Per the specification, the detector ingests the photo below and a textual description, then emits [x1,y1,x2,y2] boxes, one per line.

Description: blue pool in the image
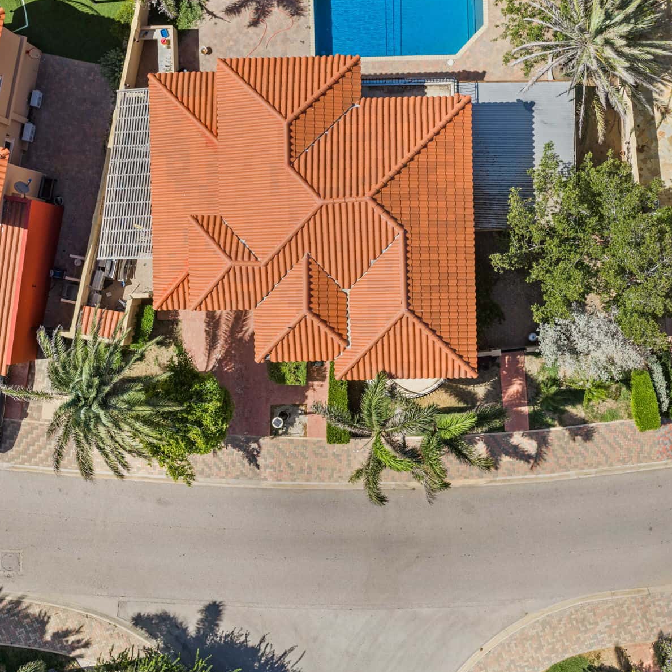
[310,0,489,60]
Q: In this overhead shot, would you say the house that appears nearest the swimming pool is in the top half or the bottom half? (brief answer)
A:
top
